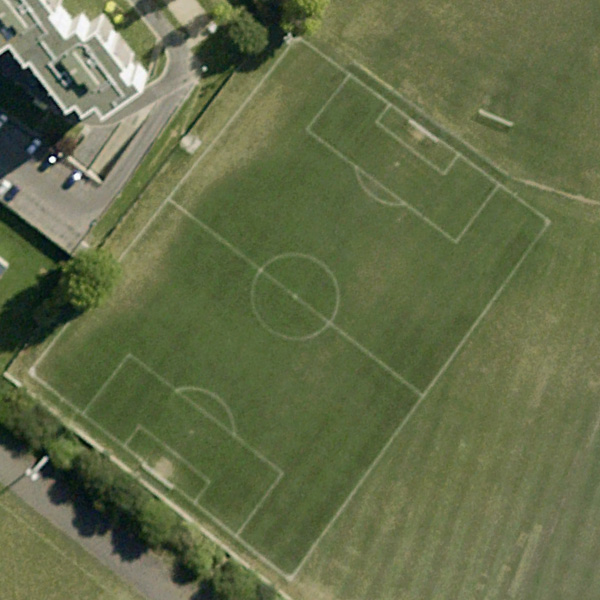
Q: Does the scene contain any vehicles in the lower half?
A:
No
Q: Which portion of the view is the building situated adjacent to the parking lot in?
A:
top left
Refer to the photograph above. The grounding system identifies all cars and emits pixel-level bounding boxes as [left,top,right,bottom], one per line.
[39,155,57,173]
[0,112,8,126]
[63,172,80,190]
[0,178,12,196]
[3,185,20,202]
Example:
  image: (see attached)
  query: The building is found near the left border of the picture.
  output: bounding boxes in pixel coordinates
[0,0,154,120]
